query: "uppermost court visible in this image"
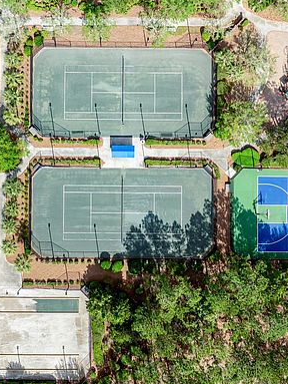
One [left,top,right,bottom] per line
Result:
[31,47,214,136]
